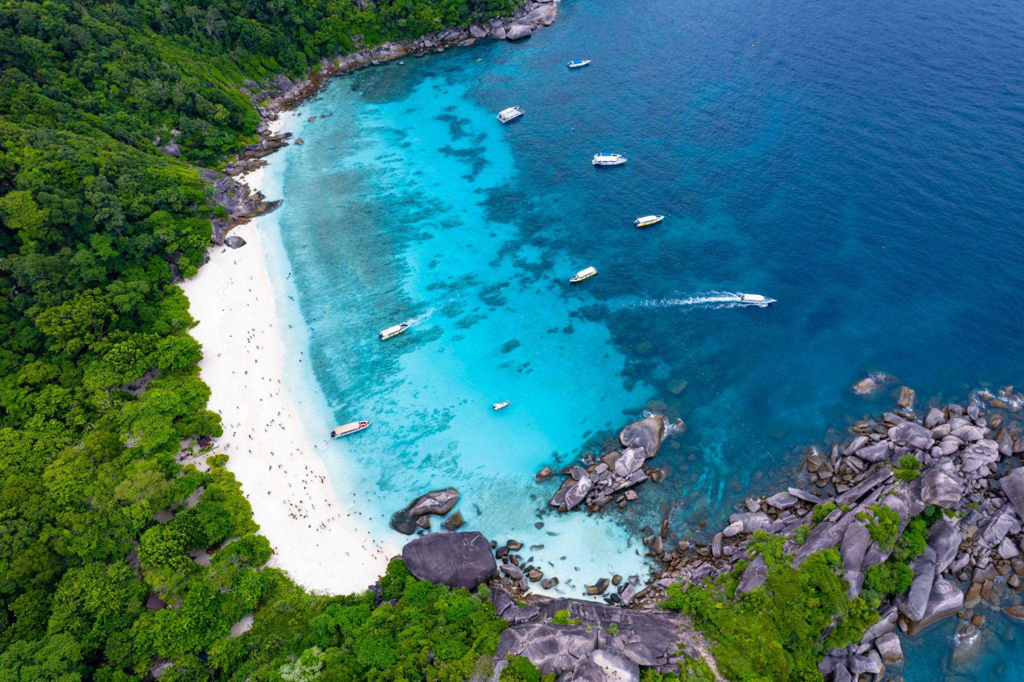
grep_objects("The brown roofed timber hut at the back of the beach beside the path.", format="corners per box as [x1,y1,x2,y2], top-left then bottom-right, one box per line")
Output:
[193,432,219,455]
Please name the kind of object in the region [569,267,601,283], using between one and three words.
boat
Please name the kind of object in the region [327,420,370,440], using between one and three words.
boat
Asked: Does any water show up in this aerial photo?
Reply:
Yes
